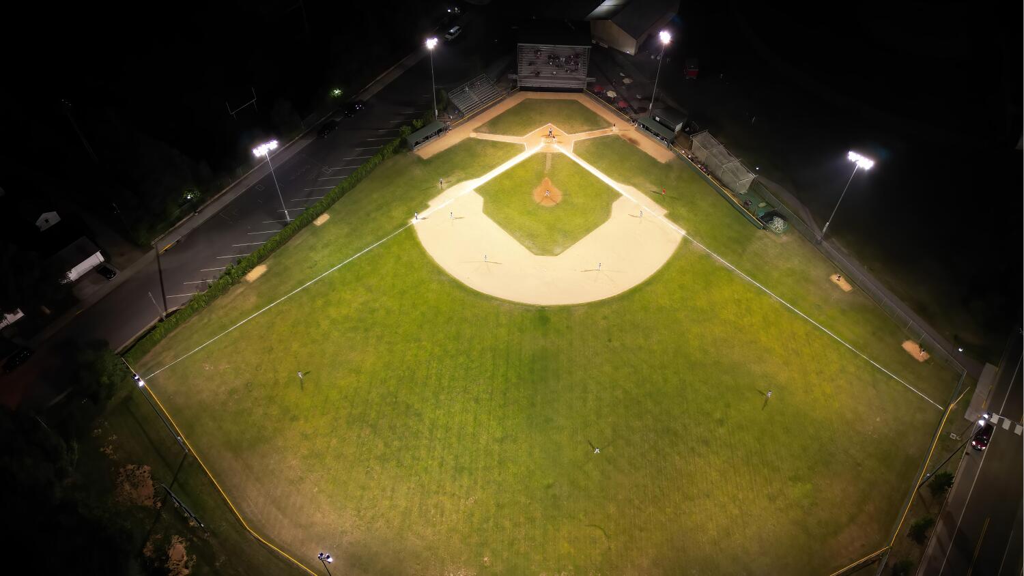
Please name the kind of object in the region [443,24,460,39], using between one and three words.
vehicle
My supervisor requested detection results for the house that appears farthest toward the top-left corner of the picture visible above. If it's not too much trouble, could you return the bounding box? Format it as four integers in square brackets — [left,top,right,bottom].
[9,188,61,233]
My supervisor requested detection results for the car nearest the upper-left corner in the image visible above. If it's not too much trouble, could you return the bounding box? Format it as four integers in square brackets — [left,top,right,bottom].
[94,262,118,280]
